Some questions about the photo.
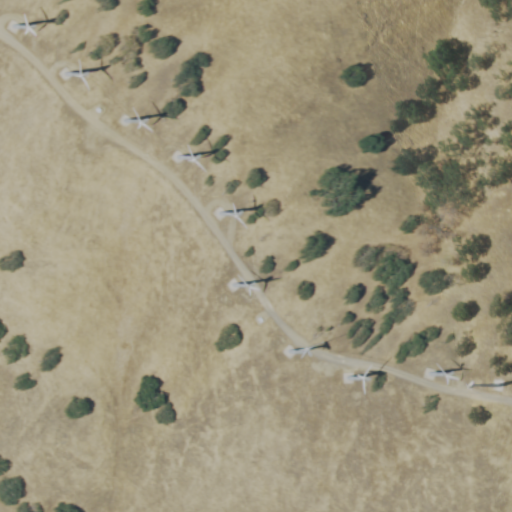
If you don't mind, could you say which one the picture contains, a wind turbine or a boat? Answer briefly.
wind turbine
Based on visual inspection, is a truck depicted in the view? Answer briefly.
No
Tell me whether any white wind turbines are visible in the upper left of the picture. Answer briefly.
Yes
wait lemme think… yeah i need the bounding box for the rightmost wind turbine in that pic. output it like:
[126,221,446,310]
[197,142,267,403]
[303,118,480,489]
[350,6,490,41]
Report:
[425,366,456,386]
